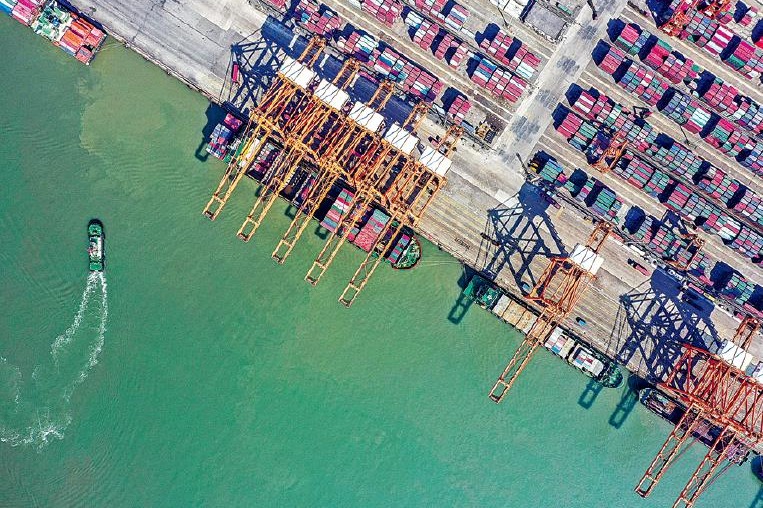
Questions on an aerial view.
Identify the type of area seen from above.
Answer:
port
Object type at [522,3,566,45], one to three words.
building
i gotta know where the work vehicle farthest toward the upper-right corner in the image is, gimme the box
[641,107,666,124]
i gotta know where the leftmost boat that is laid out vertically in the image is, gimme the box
[88,220,107,271]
